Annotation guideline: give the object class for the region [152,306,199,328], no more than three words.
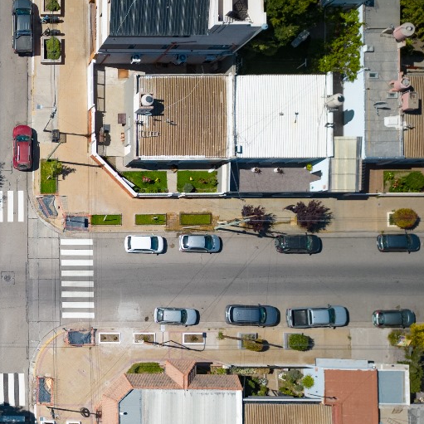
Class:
car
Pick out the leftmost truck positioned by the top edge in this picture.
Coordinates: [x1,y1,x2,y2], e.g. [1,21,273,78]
[12,0,35,57]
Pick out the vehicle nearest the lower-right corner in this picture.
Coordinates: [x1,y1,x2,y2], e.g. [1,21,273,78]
[369,307,415,330]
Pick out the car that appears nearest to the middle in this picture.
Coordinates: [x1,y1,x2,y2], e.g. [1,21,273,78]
[177,233,220,254]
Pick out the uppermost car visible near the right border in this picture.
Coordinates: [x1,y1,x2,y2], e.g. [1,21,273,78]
[373,231,419,254]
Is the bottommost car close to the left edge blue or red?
red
